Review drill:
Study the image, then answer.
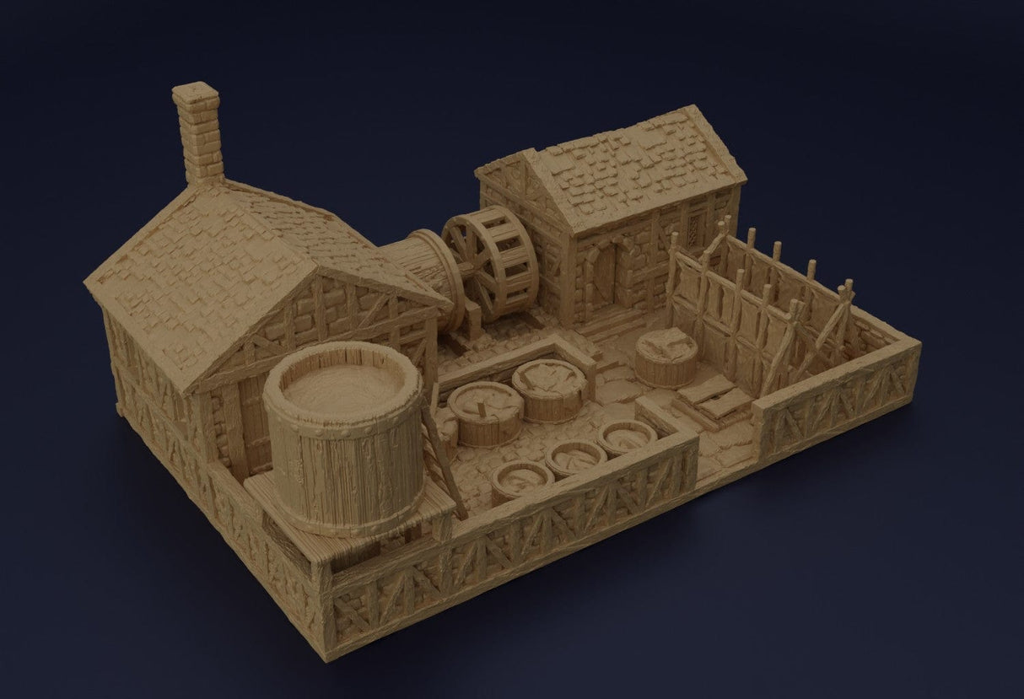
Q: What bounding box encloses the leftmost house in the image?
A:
[85,84,451,518]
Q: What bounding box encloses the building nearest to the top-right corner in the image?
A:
[477,104,745,323]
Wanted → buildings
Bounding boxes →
[85,84,451,518]
[477,104,745,323]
